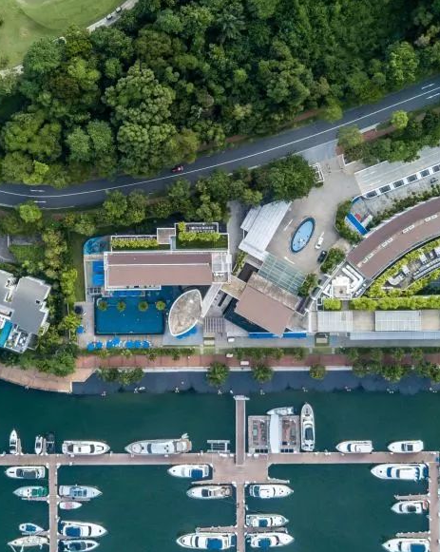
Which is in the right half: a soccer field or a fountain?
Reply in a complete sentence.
You can see a fountain in the right half.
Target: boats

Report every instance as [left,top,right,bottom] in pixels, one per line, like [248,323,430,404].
[392,501,429,515]
[169,465,211,479]
[8,537,50,552]
[187,485,234,500]
[176,533,237,552]
[60,440,108,455]
[246,514,290,531]
[388,440,424,453]
[17,524,43,534]
[301,403,315,453]
[46,431,55,454]
[58,485,103,499]
[246,532,294,549]
[58,501,81,510]
[372,464,429,483]
[247,484,294,500]
[267,407,296,416]
[58,521,107,540]
[9,429,18,454]
[35,433,42,454]
[13,486,49,499]
[337,439,374,454]
[126,439,194,457]
[384,537,429,552]
[5,466,48,480]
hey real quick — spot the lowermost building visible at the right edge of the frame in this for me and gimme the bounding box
[310,310,440,339]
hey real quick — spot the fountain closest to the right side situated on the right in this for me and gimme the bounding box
[291,218,315,251]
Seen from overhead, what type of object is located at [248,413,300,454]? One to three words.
building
